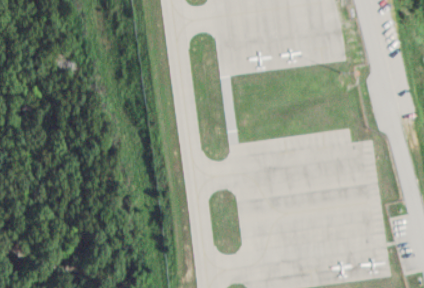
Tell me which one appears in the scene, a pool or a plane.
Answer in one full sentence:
There is a plane in the scene.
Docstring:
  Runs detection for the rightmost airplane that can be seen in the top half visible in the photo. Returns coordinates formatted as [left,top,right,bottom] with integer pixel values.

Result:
[280,48,302,64]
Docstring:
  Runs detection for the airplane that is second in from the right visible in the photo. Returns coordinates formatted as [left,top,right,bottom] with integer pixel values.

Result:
[330,261,353,278]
